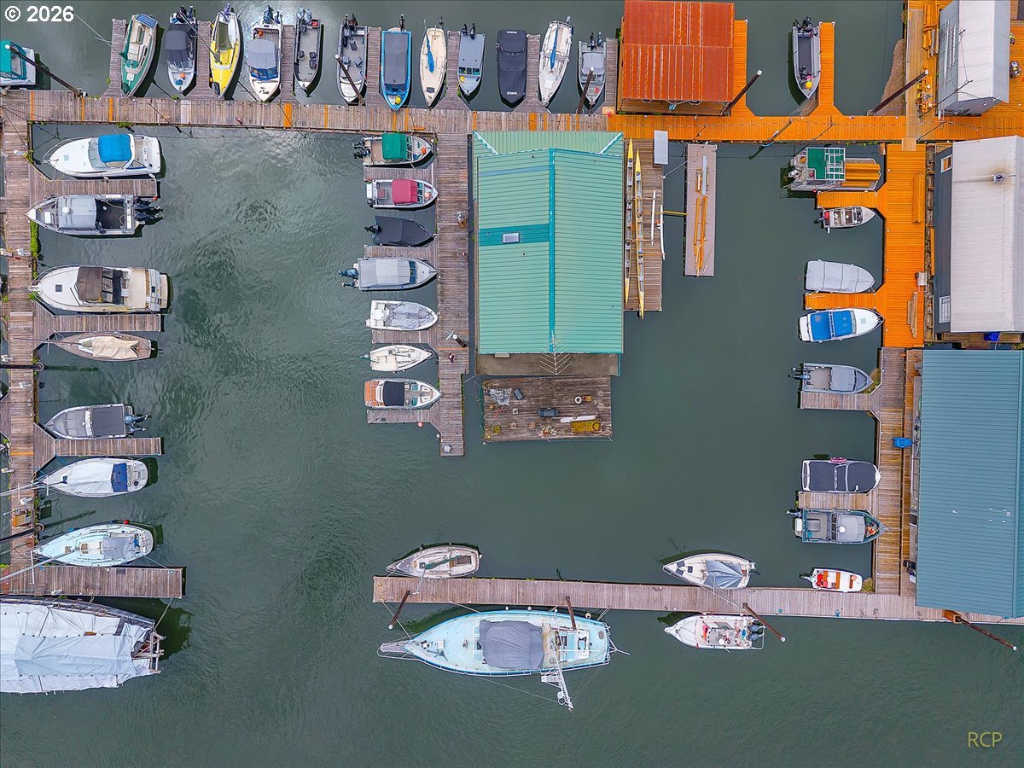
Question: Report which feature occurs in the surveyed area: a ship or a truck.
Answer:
ship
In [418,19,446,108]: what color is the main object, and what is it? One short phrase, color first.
white boat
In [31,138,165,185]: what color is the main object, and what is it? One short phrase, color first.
white boat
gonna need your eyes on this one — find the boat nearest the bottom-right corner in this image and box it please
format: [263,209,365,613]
[799,568,863,592]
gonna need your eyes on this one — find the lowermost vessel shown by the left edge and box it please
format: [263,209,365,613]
[0,593,173,695]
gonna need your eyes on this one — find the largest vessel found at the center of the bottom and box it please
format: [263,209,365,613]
[379,597,630,698]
